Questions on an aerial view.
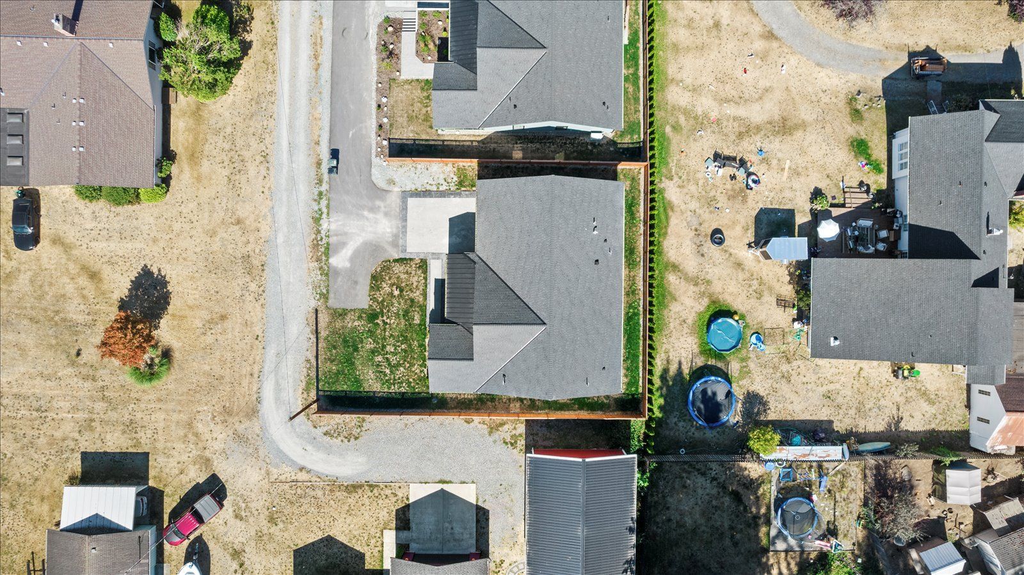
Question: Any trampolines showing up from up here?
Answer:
Yes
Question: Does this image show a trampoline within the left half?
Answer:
No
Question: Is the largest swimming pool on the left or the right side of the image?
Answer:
right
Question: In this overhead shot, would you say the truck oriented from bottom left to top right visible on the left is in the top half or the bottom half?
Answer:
bottom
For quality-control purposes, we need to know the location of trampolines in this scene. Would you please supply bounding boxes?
[686,376,743,429]
[773,493,828,548]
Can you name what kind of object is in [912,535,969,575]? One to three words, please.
shed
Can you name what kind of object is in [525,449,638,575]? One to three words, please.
barn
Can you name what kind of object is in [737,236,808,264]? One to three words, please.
trailer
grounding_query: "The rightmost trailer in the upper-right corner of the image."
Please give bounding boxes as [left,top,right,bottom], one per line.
[916,50,959,80]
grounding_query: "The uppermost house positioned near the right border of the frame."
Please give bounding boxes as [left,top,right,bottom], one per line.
[801,99,1024,386]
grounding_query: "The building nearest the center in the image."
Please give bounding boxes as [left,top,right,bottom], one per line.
[426,174,625,399]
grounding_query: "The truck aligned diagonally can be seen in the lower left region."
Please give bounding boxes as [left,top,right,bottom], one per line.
[161,490,227,543]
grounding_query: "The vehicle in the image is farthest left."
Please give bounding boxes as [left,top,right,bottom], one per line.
[7,192,40,250]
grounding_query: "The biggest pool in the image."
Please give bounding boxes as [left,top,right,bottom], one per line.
[707,315,746,353]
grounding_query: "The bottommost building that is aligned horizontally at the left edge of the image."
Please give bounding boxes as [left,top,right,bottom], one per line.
[46,523,164,575]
